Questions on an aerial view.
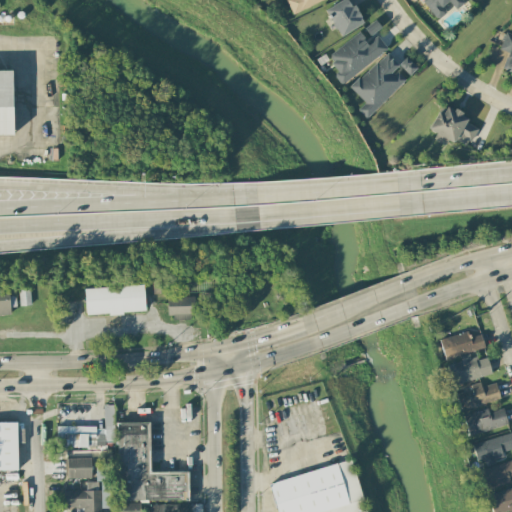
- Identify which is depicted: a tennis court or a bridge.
bridge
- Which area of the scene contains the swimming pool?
top right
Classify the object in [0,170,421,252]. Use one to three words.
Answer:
overpass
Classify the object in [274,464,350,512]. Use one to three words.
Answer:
building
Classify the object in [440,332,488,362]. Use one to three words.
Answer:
house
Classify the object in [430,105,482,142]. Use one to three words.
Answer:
house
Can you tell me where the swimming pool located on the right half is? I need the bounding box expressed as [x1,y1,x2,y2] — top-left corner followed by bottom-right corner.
[435,10,468,32]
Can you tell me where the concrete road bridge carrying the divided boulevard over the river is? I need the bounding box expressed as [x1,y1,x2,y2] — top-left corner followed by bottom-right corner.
[270,278,392,369]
